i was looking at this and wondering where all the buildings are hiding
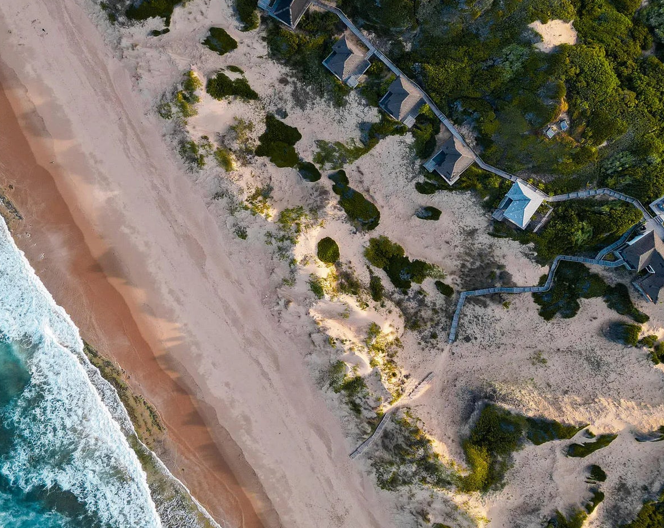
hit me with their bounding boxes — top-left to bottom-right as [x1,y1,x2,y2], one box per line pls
[377,77,427,130]
[257,0,313,31]
[421,134,475,187]
[490,180,554,233]
[322,35,372,92]
[607,228,664,307]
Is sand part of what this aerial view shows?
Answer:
Yes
